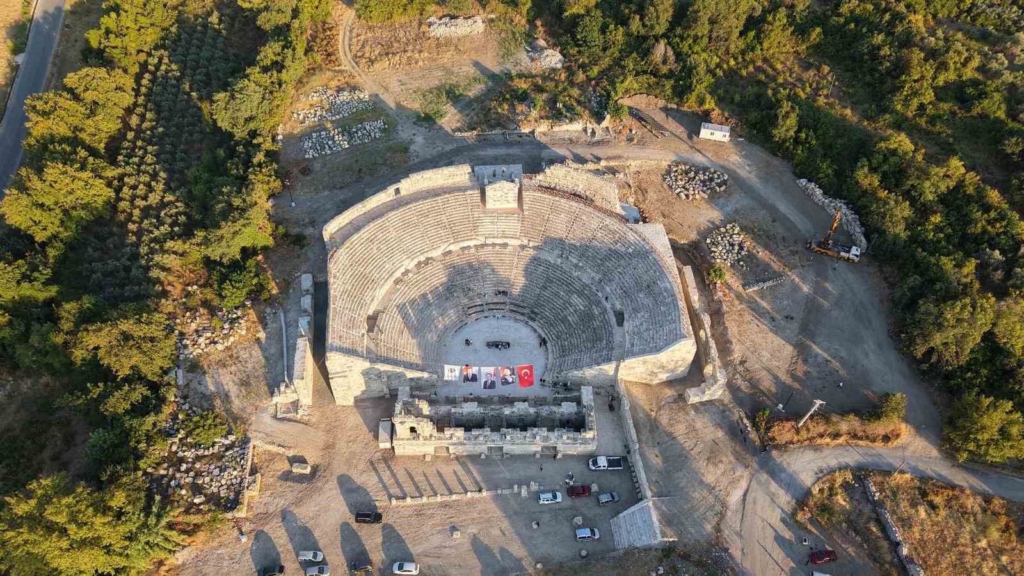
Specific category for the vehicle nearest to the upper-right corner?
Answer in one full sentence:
The vehicle nearest to the upper-right corner appears to be a truck.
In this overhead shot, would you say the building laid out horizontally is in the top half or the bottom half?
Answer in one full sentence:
The building laid out horizontally is in the bottom half of the image.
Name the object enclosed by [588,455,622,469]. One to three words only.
vehicle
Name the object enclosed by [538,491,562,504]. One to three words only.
vehicle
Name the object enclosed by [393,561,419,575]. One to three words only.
car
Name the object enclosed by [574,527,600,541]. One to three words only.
car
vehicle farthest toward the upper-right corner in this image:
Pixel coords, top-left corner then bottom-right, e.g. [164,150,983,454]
[808,214,862,265]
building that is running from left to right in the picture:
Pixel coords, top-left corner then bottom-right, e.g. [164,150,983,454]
[388,377,601,461]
